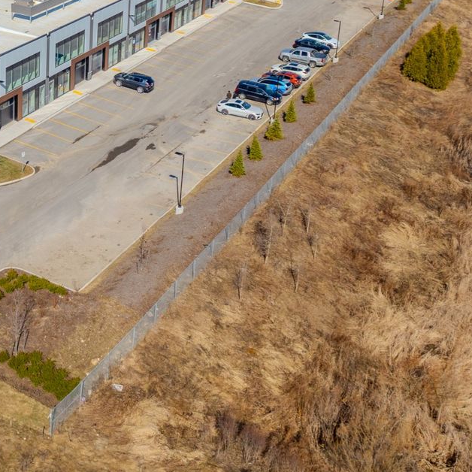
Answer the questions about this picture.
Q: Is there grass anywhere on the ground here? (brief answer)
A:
Yes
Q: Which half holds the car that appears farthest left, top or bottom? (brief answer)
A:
top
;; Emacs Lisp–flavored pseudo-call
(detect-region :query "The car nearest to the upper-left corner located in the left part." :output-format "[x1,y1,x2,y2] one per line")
[113,72,157,93]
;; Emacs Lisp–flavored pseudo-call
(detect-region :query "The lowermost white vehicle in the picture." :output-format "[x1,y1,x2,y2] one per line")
[218,96,268,120]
